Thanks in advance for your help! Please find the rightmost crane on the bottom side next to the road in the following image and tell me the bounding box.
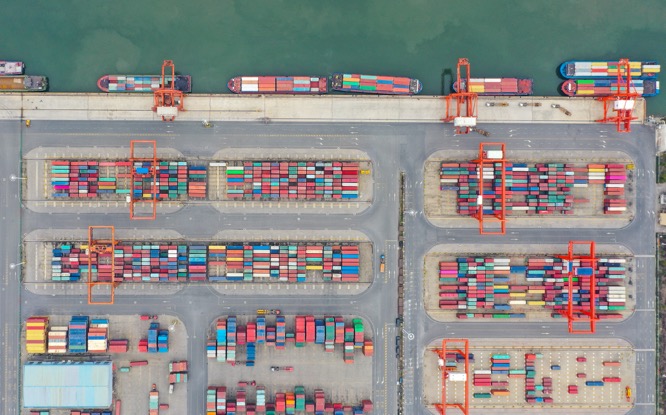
[554,241,595,333]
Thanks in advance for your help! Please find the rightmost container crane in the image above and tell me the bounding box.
[589,59,641,133]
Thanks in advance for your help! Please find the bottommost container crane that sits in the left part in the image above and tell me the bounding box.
[85,226,124,304]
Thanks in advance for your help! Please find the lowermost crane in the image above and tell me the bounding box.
[433,339,469,415]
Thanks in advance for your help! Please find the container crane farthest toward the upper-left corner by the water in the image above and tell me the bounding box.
[151,60,189,121]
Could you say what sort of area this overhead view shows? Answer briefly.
port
